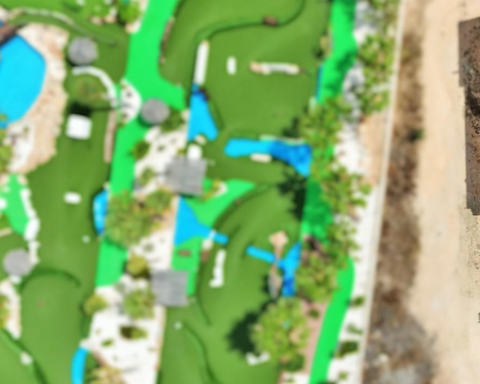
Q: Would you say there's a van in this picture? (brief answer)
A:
No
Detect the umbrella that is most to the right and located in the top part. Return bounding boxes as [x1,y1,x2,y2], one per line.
[143,99,171,126]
